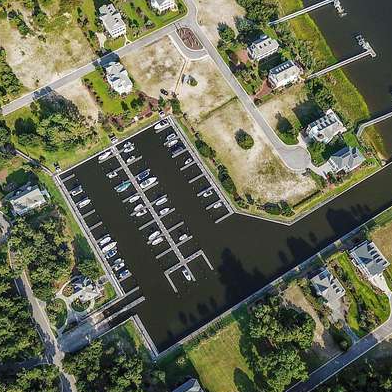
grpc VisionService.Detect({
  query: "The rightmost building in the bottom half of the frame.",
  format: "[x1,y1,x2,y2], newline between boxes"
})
[345,238,387,275]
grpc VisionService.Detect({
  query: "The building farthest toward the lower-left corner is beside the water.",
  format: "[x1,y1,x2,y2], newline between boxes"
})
[70,272,109,304]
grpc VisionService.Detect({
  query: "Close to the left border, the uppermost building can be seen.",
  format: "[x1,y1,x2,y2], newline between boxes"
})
[3,182,51,216]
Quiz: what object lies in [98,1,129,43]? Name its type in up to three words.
house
